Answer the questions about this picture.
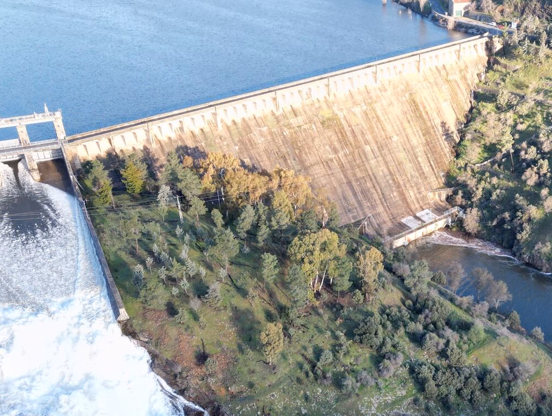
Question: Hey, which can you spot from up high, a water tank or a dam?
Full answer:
The one in the frame is a dam.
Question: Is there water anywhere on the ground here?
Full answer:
Yes, there's water in this view.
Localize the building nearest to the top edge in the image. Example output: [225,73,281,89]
[447,0,468,17]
